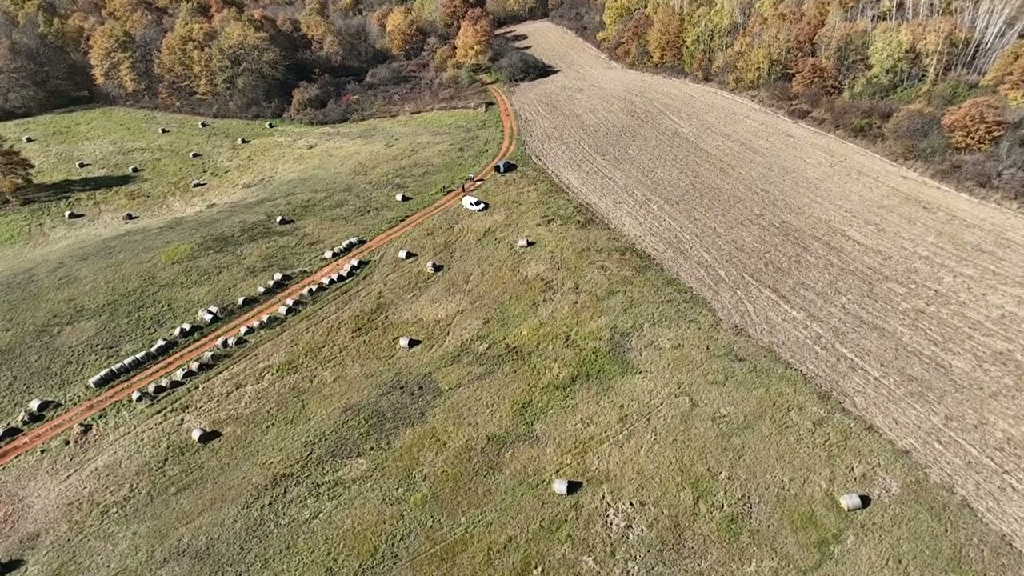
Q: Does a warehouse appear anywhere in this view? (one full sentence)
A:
No, there is no warehouse in the image.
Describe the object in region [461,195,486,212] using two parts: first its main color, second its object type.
white vehicle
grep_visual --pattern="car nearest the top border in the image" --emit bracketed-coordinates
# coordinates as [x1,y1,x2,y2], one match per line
[497,159,511,175]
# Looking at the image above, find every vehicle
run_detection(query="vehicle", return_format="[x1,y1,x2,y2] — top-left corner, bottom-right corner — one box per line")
[497,159,511,175]
[461,195,486,212]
